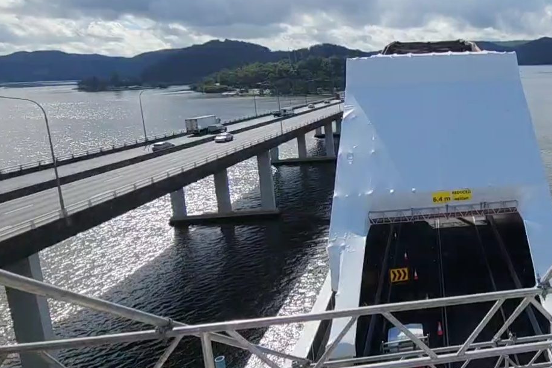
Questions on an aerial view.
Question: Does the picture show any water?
Yes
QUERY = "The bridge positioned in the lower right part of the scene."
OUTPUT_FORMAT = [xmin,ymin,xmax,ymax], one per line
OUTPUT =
[367,218,552,368]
